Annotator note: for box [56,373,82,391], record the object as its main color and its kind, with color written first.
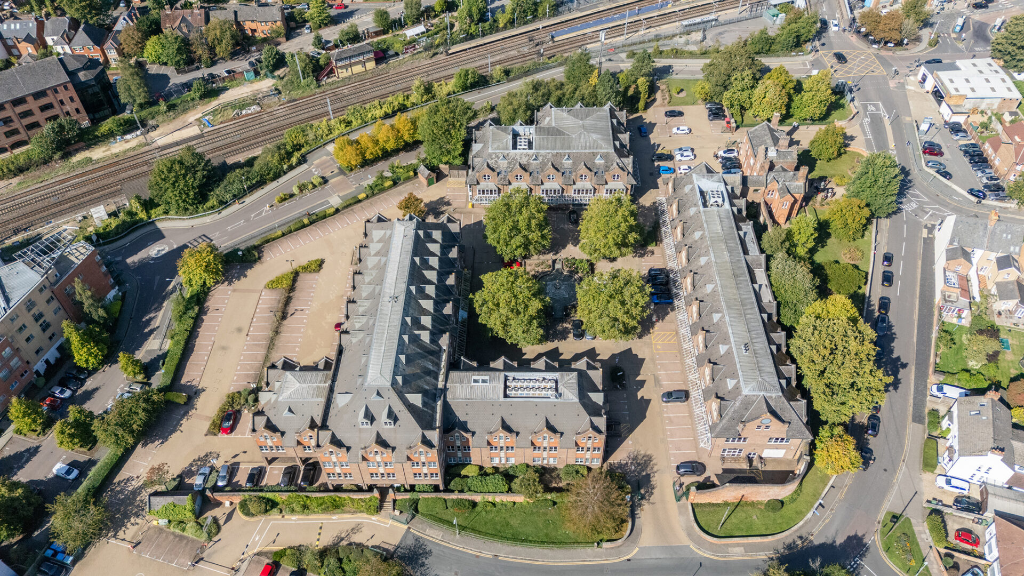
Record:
black car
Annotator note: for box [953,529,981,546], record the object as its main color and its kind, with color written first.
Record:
red car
